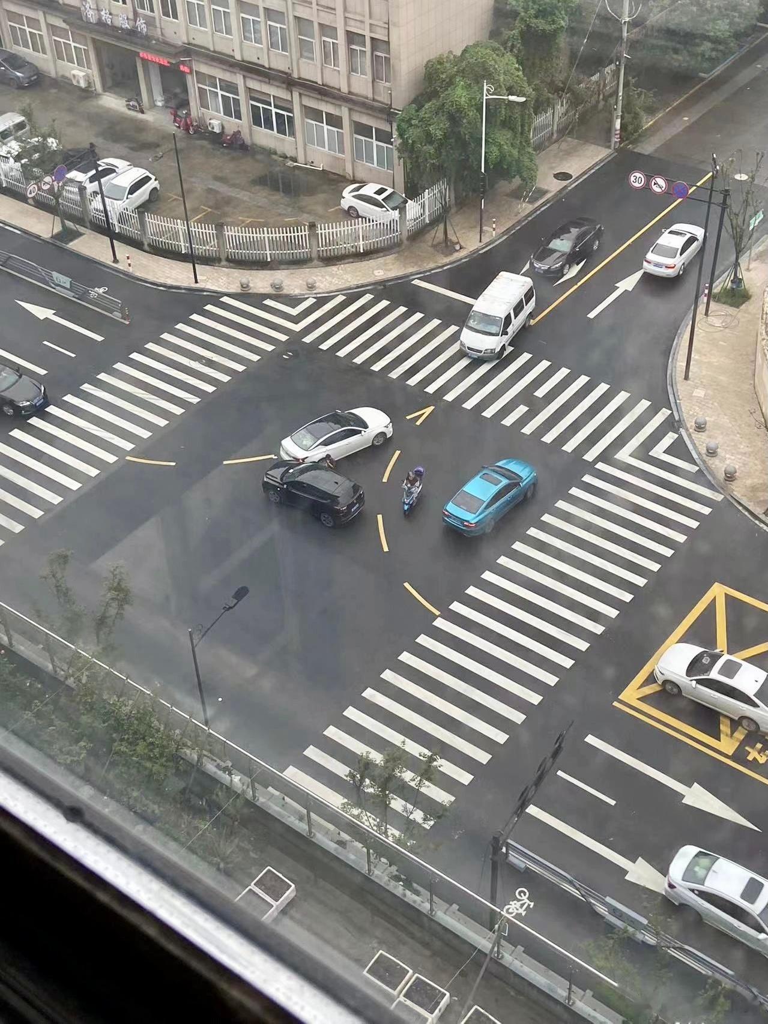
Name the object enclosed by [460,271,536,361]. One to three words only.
vehicle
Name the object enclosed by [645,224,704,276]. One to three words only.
car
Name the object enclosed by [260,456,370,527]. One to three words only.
car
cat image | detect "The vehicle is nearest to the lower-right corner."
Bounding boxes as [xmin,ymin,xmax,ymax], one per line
[665,841,768,956]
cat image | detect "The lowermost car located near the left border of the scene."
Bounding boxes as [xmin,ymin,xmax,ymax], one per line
[0,358,48,415]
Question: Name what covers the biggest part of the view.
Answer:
paved ground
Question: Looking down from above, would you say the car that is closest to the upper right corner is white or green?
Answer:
white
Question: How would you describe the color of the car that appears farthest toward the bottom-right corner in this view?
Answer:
white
